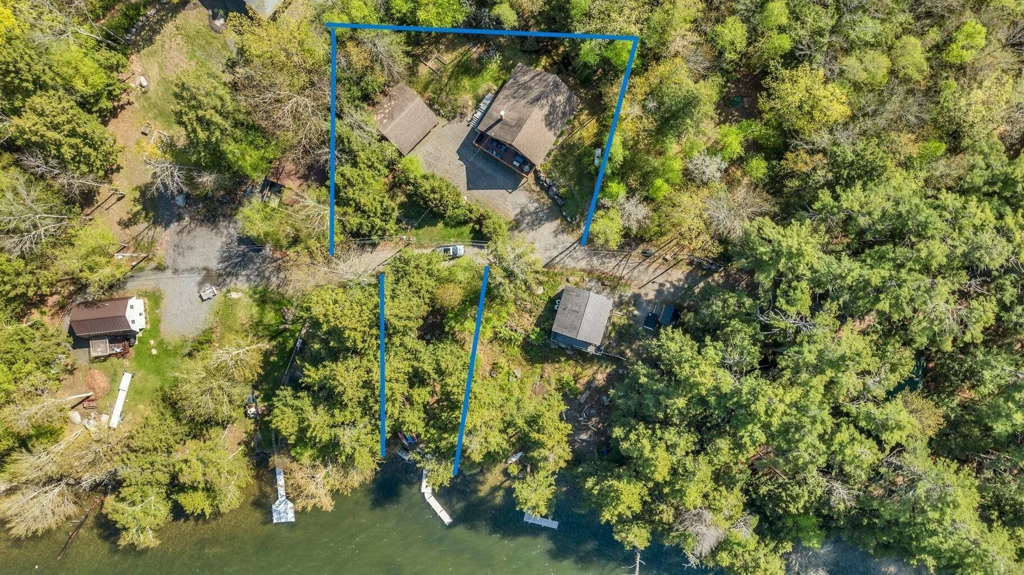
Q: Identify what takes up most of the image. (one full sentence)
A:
The bulk of the photo consists of trees.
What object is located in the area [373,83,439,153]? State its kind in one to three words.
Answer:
building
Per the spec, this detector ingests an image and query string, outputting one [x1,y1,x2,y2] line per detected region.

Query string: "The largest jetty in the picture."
[271,449,296,523]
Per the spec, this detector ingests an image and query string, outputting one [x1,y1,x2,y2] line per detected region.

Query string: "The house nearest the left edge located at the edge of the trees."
[69,297,146,338]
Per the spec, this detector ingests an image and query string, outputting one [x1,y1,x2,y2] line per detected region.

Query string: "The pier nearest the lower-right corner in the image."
[523,511,558,529]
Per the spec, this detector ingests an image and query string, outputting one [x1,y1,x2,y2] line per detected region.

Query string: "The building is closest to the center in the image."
[552,286,613,355]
